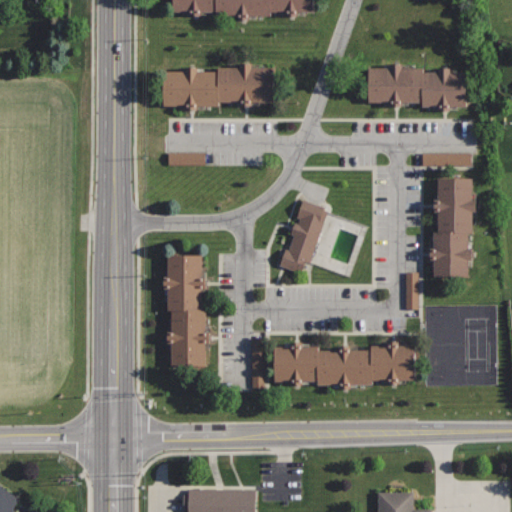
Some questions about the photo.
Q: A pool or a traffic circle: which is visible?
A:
pool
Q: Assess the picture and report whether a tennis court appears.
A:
Yes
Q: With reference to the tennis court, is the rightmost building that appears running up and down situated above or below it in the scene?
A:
above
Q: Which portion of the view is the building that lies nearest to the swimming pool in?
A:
center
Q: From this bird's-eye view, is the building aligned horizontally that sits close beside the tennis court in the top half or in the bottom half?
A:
bottom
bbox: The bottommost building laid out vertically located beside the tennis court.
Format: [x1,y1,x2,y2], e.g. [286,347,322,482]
[406,274,419,310]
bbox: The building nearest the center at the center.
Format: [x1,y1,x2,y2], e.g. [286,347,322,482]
[280,200,328,272]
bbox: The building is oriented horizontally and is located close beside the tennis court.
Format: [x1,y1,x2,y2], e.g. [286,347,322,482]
[274,343,415,390]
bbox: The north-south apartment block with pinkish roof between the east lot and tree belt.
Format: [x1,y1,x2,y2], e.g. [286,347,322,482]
[430,178,476,277]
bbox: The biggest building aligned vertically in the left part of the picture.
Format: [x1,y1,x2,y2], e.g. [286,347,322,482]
[164,255,210,368]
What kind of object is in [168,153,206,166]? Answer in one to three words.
building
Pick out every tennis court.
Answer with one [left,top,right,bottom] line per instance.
[426,306,497,386]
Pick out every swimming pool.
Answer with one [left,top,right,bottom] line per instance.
[312,212,368,278]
